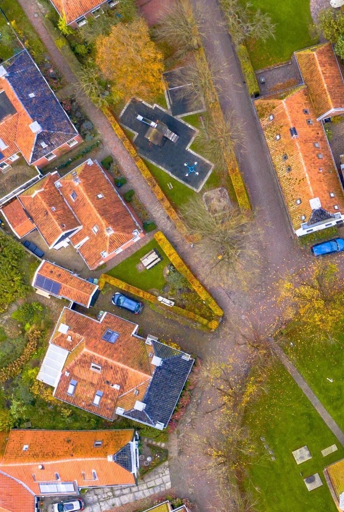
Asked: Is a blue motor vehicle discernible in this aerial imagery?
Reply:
Yes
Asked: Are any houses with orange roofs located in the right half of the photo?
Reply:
Yes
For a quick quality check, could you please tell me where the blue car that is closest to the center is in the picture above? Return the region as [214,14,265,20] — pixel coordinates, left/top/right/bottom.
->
[111,292,145,315]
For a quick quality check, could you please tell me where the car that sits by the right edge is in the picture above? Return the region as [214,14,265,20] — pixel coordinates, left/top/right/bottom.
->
[311,237,344,257]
